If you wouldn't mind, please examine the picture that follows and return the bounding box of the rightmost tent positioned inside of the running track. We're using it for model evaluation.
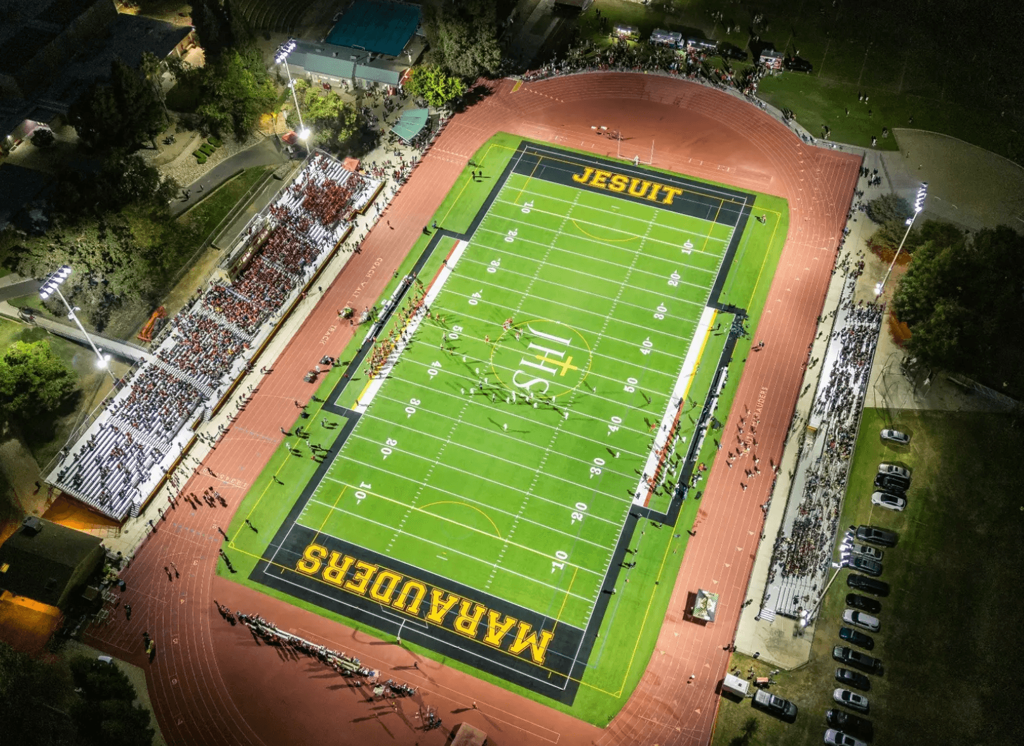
[689,589,720,629]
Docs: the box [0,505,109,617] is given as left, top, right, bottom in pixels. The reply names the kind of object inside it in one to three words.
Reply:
building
